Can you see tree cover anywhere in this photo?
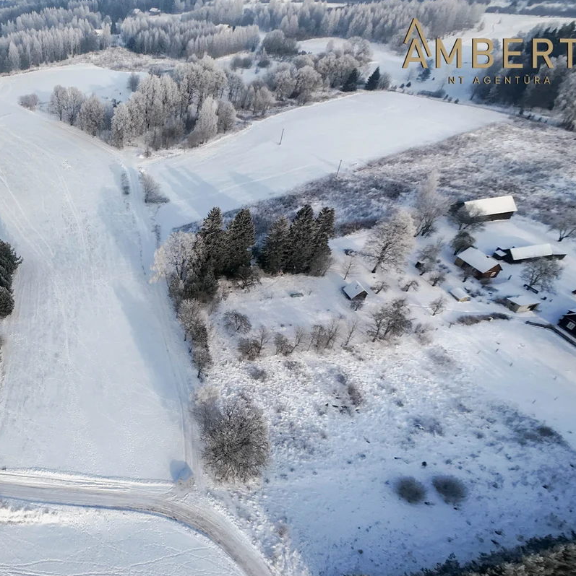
Yes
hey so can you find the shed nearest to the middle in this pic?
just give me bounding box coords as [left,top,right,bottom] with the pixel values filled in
[340,285,372,308]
